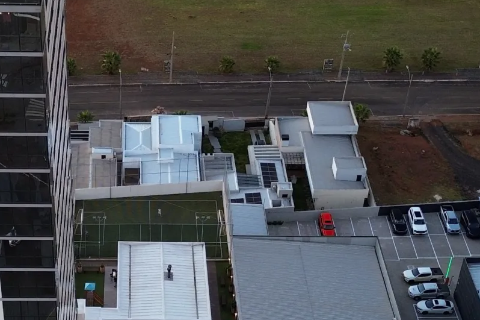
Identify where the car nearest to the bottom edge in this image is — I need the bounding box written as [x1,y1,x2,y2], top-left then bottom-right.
[417,299,459,315]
